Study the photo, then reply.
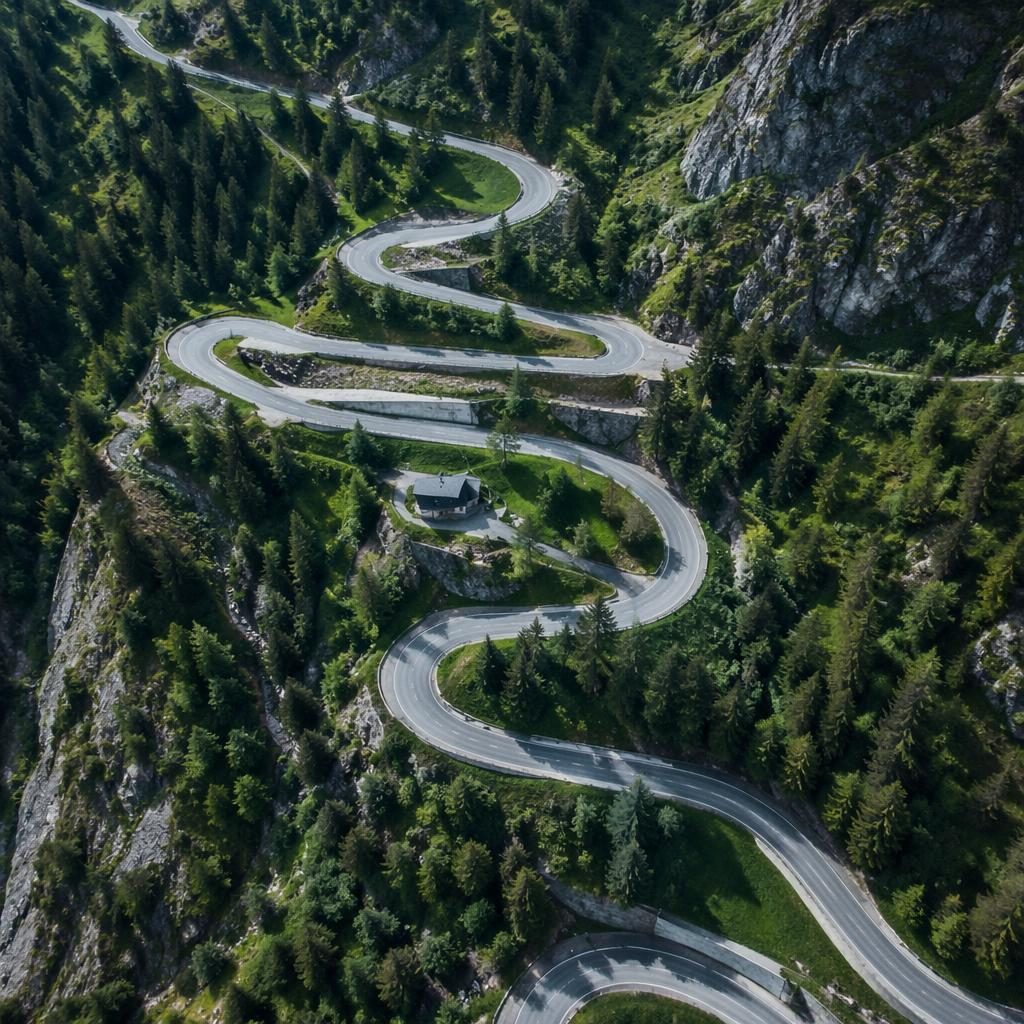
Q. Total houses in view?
1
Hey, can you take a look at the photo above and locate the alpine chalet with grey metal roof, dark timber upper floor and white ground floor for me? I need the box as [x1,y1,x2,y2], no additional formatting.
[419,471,483,519]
